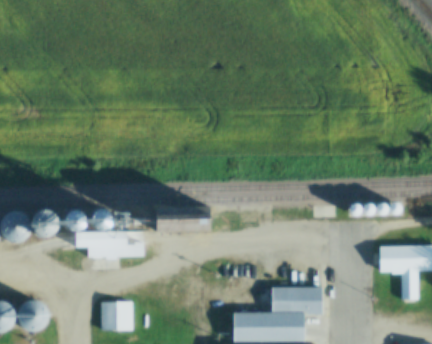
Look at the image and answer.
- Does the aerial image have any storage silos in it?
Yes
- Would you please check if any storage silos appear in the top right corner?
No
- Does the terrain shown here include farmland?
Yes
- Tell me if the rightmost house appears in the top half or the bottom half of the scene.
bottom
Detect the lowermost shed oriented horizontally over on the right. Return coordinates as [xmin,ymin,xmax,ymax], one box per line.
[233,312,304,342]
